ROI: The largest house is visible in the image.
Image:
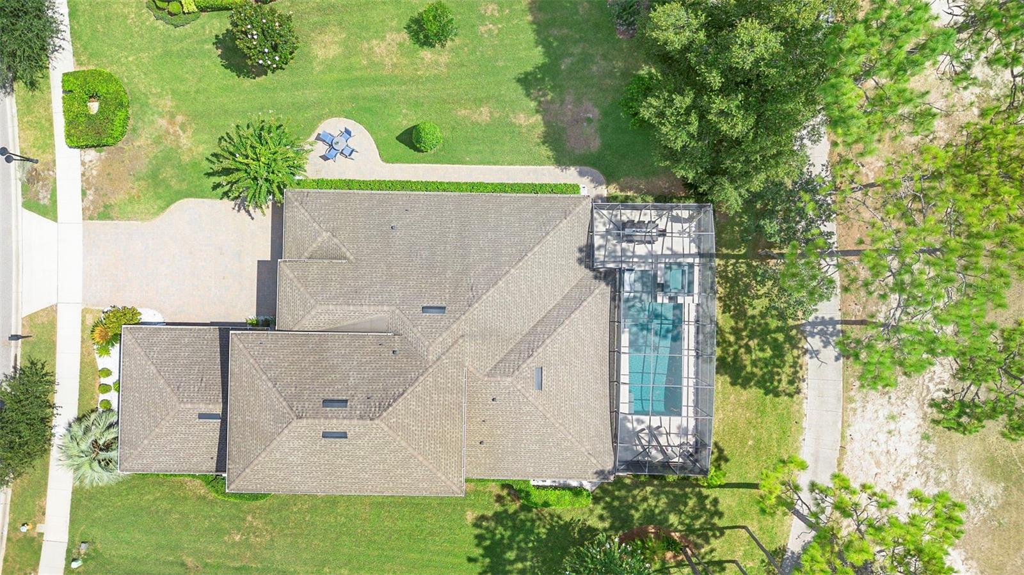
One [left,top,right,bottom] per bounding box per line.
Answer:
[117,189,618,498]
